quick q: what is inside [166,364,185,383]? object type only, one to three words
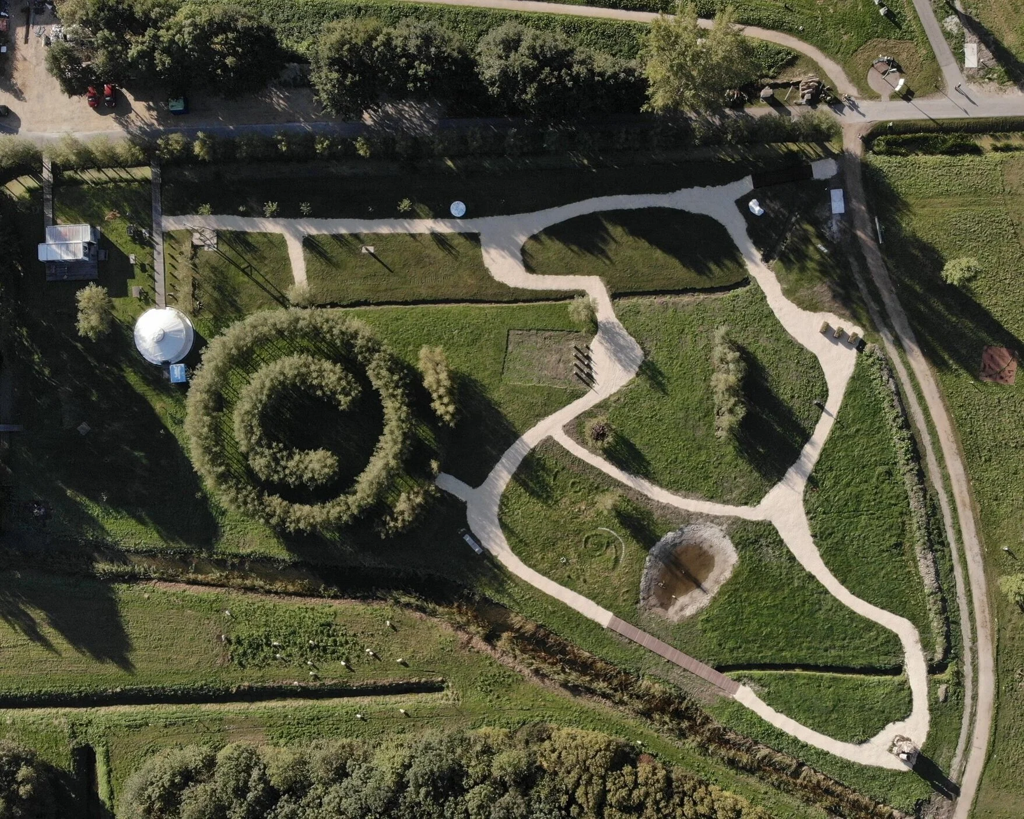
shed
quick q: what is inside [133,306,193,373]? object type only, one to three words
tent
